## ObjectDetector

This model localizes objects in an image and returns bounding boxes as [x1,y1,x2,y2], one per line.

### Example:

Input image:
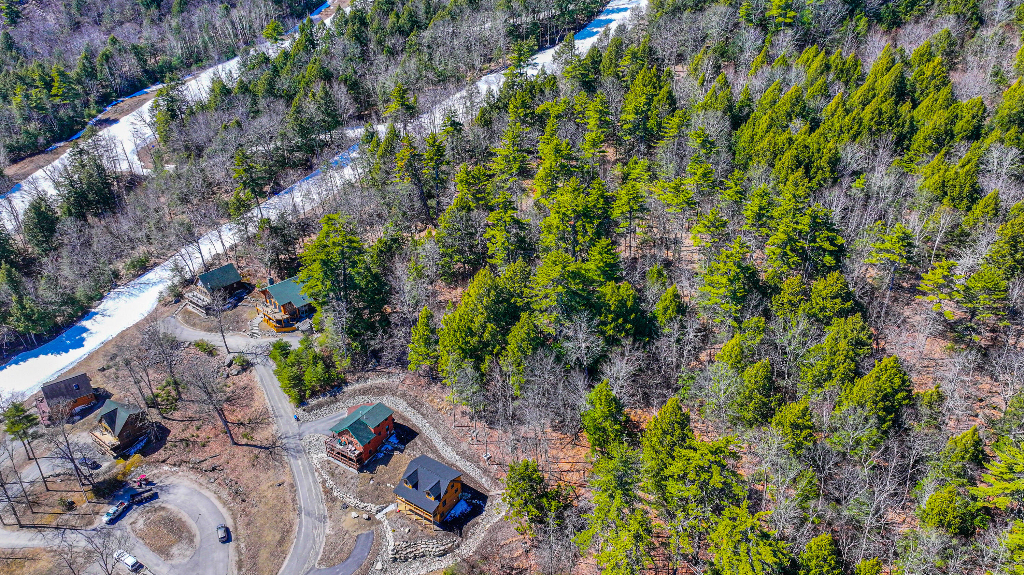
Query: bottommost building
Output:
[392,455,463,530]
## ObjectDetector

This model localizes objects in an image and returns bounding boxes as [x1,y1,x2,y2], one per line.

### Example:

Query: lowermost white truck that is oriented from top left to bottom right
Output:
[114,550,143,572]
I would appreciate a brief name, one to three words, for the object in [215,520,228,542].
vehicle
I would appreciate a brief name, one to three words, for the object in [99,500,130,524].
truck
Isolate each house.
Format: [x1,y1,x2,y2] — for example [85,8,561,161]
[392,455,463,530]
[256,274,320,331]
[33,372,96,429]
[87,399,147,457]
[184,263,243,316]
[325,402,396,475]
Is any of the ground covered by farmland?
No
